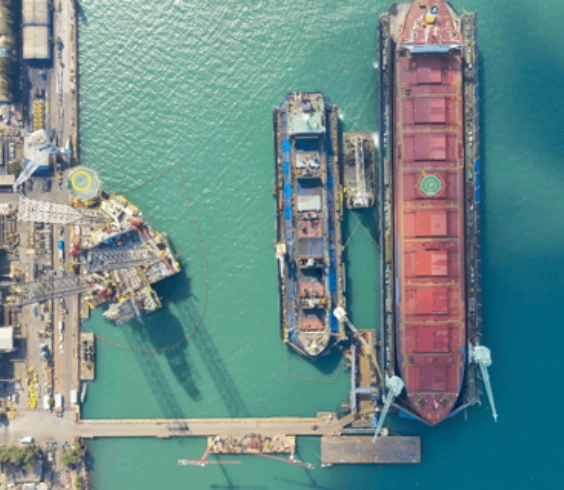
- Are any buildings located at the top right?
No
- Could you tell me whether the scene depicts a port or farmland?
port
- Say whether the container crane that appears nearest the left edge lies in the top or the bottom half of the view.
top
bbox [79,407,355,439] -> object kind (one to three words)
pier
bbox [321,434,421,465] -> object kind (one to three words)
ship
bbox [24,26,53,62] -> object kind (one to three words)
building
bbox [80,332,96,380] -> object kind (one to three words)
pier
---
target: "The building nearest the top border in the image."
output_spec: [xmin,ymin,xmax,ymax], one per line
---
[22,0,52,29]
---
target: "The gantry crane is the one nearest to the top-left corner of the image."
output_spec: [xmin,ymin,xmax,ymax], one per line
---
[13,138,75,190]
